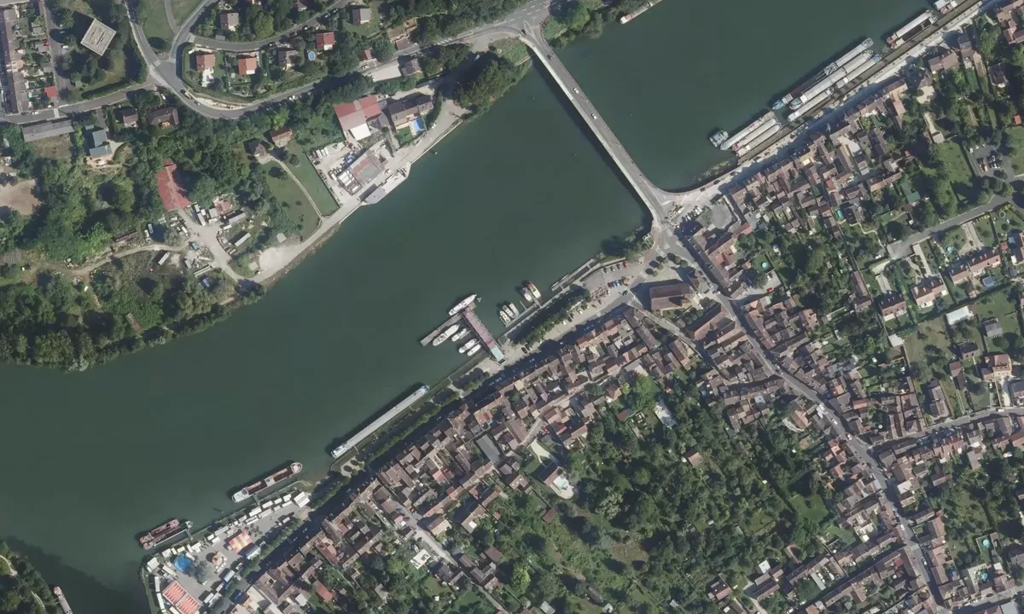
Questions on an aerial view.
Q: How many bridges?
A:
1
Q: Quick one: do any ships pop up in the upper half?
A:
Yes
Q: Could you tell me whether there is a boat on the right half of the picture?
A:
Yes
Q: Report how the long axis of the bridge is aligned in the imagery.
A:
on a diagonal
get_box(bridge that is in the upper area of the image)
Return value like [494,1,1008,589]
[524,29,663,219]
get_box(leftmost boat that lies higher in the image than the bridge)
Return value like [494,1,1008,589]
[621,0,663,23]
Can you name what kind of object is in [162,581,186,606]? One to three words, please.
building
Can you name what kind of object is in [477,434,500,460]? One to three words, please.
house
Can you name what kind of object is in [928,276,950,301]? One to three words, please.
house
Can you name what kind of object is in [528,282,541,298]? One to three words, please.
boat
